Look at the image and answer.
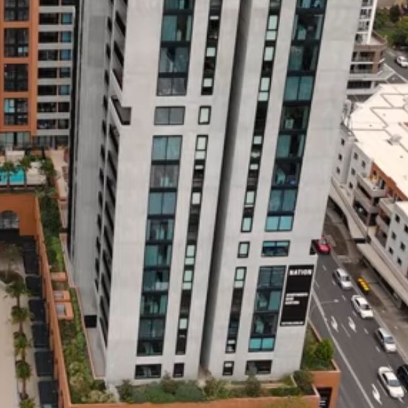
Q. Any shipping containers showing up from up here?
No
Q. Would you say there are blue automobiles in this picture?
No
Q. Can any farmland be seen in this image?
No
